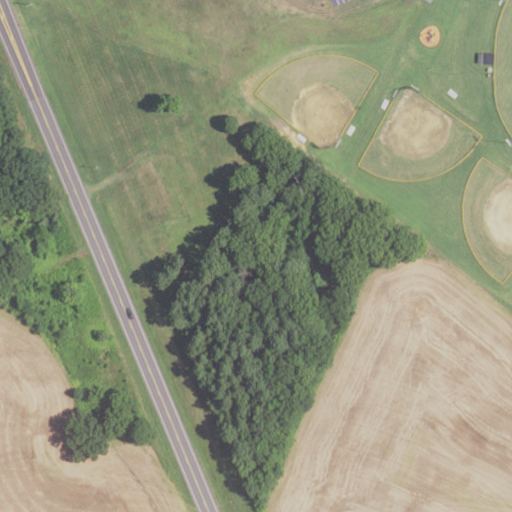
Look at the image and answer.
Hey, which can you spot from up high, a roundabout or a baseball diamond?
baseball diamond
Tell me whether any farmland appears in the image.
Yes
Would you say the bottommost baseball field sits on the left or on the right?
right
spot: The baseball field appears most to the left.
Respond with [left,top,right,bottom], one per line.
[254,54,379,148]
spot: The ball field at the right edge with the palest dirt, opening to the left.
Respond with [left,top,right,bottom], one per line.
[462,157,512,285]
